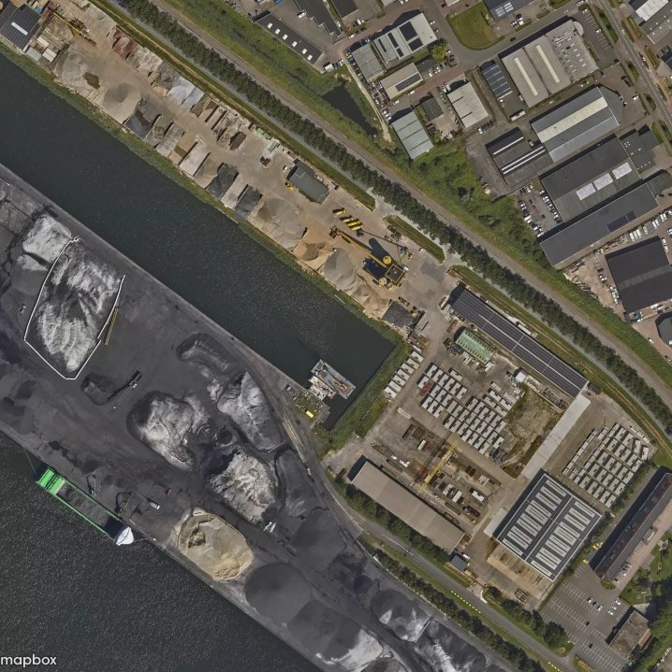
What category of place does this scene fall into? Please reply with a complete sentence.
This image shows a port.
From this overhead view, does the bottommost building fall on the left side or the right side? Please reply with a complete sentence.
The bottommost building sits on the right side.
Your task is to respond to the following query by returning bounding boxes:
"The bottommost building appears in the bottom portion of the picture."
[609,610,646,659]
